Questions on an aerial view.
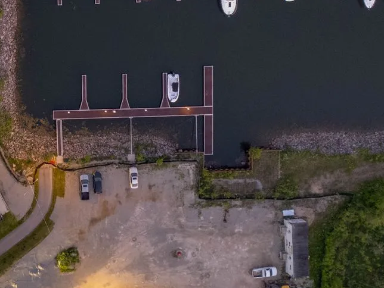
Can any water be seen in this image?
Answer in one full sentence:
Yes, water can be seen from above here.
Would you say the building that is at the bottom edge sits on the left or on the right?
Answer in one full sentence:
The building that is at the bottom edge appears in the right half of the scene.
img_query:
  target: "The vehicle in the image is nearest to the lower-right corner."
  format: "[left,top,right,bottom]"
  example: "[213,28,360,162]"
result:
[250,265,279,278]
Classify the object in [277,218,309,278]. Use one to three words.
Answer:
building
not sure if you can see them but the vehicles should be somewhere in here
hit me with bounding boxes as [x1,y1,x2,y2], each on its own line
[128,165,140,189]
[92,170,104,194]
[79,173,91,201]
[250,265,279,278]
